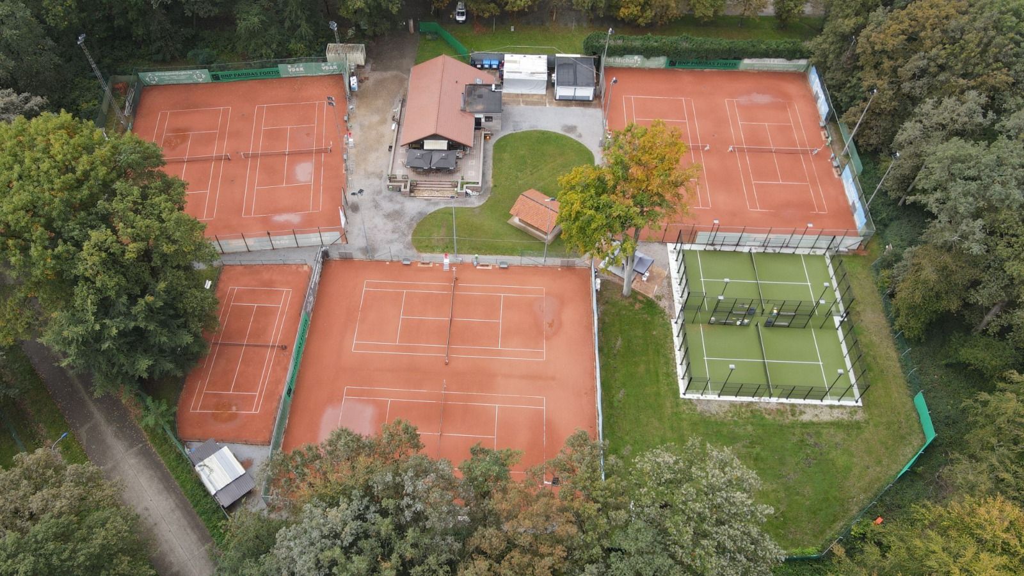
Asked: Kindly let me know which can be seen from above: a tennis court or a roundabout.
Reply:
tennis court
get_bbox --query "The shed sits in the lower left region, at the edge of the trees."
[189,437,253,510]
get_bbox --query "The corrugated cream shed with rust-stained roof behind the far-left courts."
[324,38,367,67]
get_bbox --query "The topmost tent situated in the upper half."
[501,54,549,93]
